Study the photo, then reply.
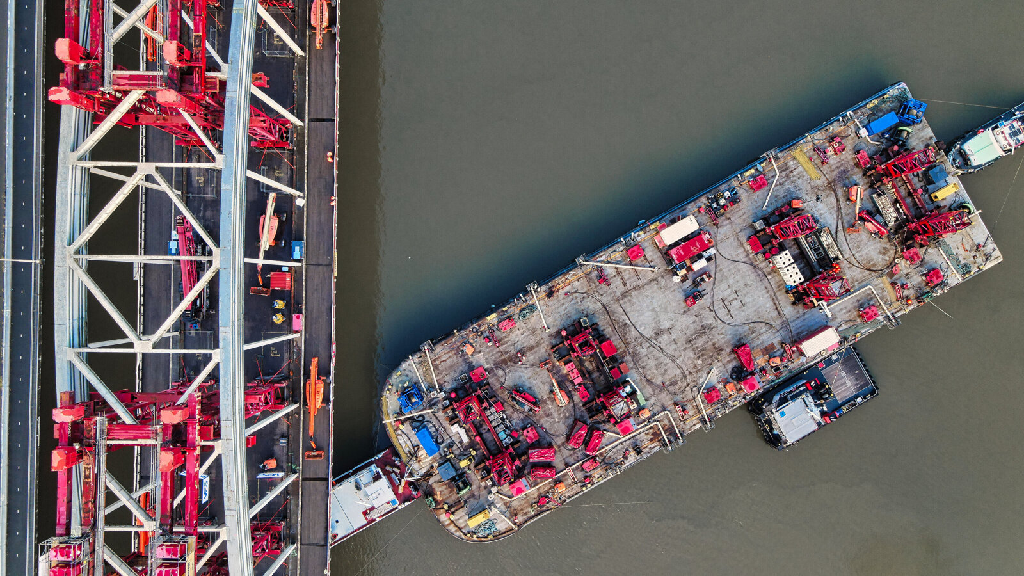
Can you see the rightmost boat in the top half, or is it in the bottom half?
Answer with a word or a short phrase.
top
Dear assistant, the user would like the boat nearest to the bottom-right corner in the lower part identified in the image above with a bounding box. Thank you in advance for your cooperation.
[744,346,886,452]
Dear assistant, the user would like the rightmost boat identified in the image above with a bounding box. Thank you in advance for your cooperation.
[944,102,1024,173]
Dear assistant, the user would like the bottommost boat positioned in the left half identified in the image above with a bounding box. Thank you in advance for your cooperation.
[332,446,421,547]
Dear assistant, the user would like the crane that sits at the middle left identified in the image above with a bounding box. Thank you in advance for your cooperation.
[175,213,219,330]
